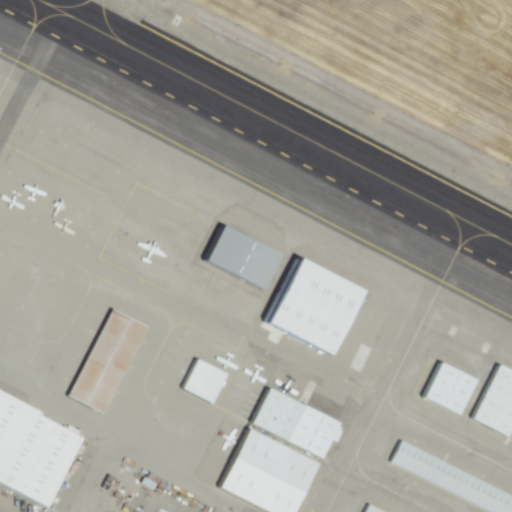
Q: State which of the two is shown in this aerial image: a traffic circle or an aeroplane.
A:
aeroplane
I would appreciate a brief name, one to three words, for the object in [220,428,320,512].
hangar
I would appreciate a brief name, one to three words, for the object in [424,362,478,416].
hangar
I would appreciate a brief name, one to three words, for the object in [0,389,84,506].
building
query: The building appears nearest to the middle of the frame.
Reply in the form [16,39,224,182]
[206,225,282,289]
